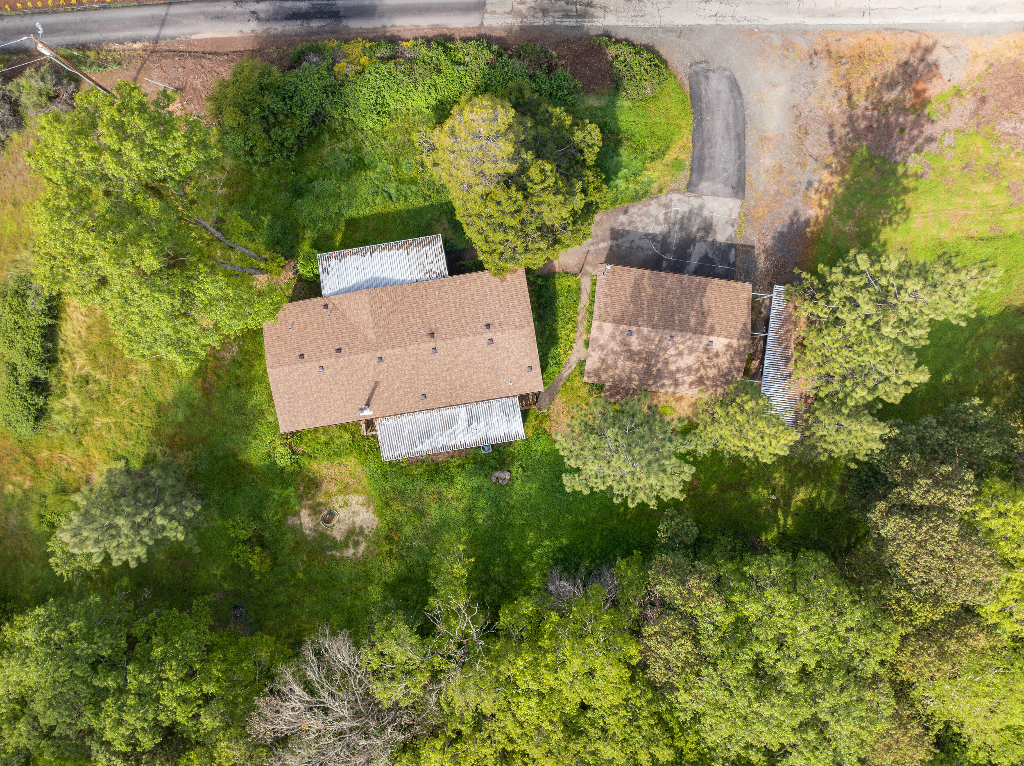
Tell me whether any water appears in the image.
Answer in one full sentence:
No, no water is visible.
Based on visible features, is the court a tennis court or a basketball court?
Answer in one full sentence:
It turns out the court is a basketball court.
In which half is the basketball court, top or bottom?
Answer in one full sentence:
The basketball court sits in the top half of the picture.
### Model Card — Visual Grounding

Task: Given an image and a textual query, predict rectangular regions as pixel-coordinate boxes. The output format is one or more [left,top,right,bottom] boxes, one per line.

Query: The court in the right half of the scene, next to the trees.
[541,191,743,279]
